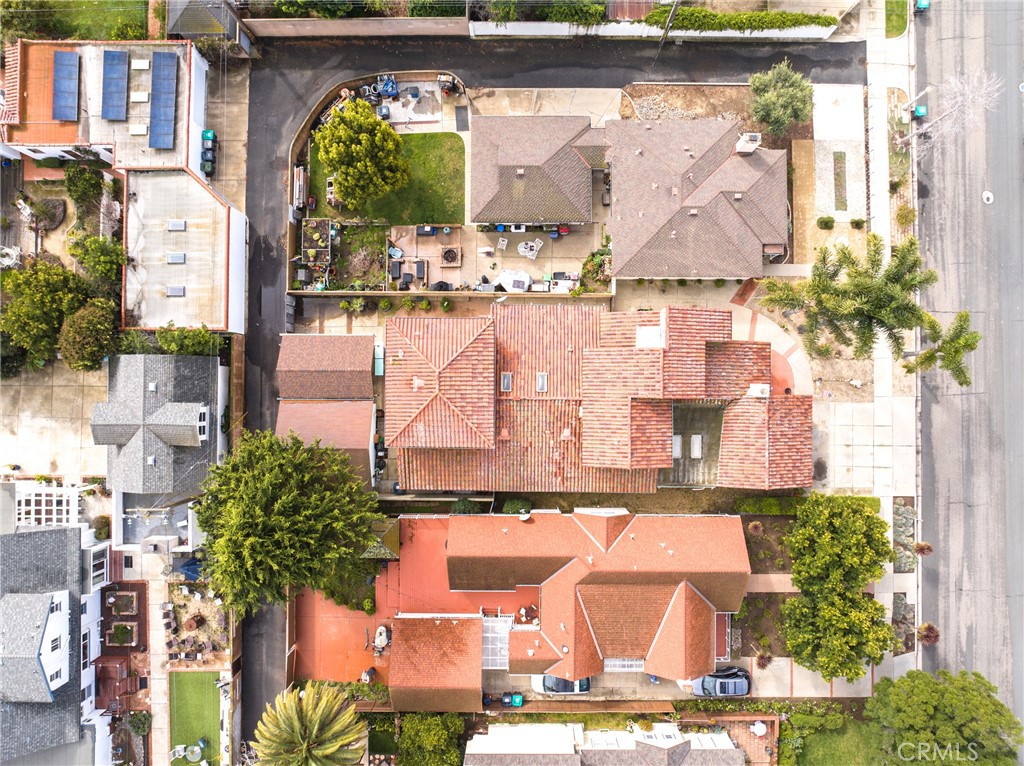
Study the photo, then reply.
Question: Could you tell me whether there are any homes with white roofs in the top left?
Yes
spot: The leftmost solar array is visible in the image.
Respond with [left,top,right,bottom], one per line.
[53,50,78,121]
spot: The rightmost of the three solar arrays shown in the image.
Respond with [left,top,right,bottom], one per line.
[149,51,177,149]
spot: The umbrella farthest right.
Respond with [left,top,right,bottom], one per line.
[752,719,765,735]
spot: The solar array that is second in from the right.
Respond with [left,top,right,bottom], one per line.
[102,49,128,121]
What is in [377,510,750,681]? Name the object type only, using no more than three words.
house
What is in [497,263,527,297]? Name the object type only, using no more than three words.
umbrella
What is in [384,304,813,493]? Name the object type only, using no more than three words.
house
